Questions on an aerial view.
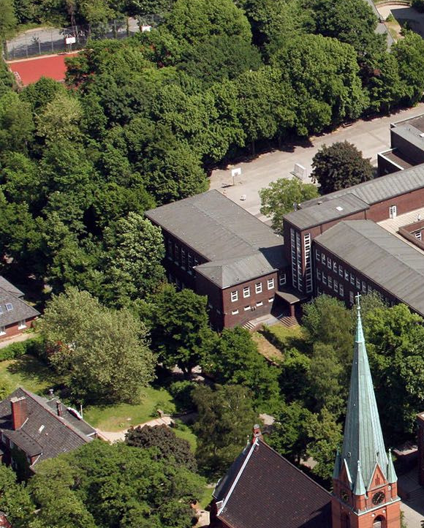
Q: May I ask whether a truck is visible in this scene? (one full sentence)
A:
No, there appears to be no truck in this shot.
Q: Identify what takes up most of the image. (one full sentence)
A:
The bulk of the photo consists of trees.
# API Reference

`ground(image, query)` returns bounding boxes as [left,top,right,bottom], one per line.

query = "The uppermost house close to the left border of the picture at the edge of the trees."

[0,282,40,344]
